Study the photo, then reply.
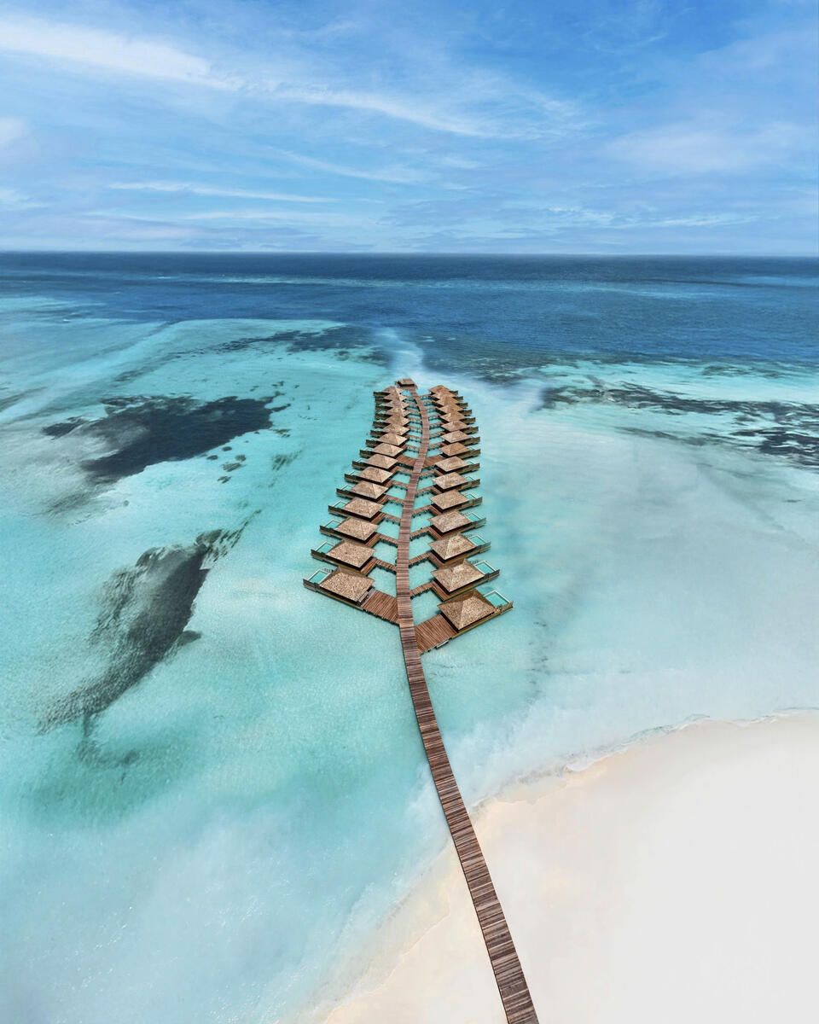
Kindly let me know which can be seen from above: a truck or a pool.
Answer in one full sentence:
Looking from above, you can make out a pool.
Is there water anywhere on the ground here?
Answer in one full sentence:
Yes, there's water in this view.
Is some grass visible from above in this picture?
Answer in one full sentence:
No, the scene doesn't show any grass.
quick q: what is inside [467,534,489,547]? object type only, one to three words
swimming pool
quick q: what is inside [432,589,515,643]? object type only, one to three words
house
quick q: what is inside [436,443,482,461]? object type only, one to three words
house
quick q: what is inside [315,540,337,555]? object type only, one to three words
swimming pool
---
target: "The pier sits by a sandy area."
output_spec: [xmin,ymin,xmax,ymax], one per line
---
[397,389,539,1024]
